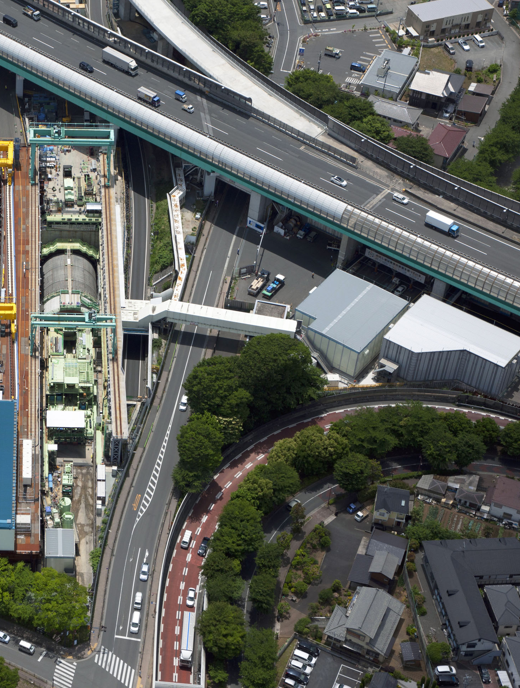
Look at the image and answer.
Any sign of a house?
Yes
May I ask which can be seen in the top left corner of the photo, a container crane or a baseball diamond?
container crane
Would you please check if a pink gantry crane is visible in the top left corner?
No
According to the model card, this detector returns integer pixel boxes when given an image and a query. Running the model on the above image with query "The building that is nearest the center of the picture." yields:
[254,301,287,318]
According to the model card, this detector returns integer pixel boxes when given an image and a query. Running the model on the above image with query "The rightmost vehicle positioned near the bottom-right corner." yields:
[477,666,492,686]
